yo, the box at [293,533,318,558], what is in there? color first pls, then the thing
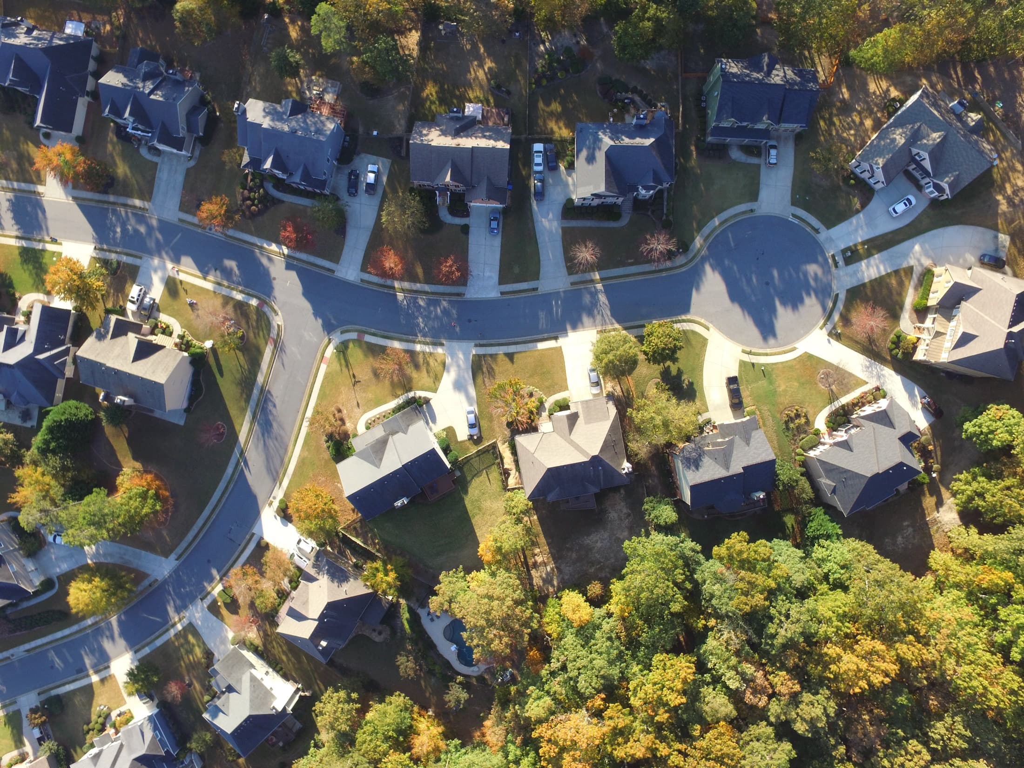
white car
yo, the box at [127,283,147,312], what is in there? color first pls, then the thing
white car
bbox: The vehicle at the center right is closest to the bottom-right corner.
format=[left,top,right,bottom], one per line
[918,395,945,421]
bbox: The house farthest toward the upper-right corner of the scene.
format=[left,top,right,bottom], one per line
[837,85,996,206]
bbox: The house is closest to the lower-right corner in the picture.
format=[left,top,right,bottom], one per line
[803,395,925,517]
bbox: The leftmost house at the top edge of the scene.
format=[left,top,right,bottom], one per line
[0,14,112,143]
